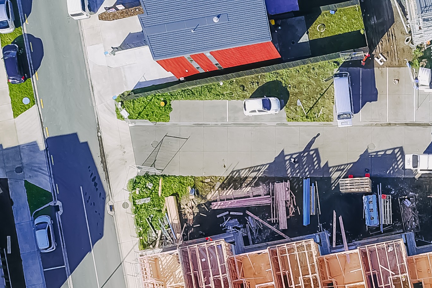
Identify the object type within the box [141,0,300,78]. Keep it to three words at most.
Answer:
house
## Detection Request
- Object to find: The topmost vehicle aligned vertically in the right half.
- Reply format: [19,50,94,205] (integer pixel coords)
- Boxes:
[333,73,355,125]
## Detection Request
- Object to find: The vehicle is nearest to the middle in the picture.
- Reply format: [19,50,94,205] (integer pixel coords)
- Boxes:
[242,96,281,117]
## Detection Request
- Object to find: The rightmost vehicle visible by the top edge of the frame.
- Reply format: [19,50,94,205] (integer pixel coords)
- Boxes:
[67,0,92,26]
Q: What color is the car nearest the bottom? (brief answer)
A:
blue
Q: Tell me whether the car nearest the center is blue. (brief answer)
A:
No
